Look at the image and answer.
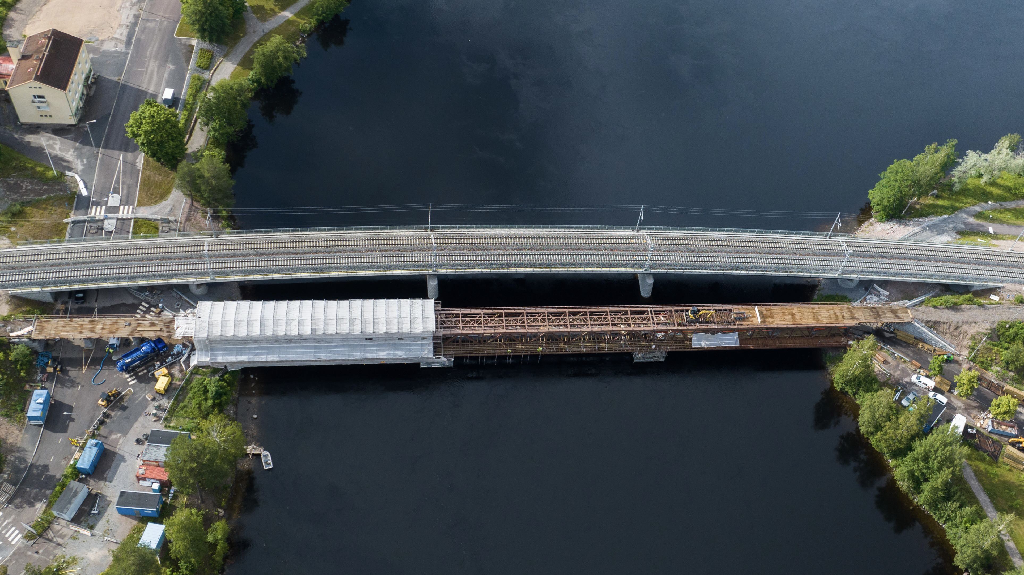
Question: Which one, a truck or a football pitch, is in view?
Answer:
truck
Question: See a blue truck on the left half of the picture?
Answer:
Yes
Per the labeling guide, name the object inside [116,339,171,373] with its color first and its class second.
blue truck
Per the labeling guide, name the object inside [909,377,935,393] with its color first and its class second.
white vehicle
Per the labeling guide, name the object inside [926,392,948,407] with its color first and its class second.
white car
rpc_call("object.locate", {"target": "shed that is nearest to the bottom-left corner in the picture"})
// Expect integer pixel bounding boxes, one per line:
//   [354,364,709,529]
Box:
[51,479,88,521]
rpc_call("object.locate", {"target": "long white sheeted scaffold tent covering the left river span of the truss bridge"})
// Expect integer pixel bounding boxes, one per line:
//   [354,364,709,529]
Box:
[194,297,435,369]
